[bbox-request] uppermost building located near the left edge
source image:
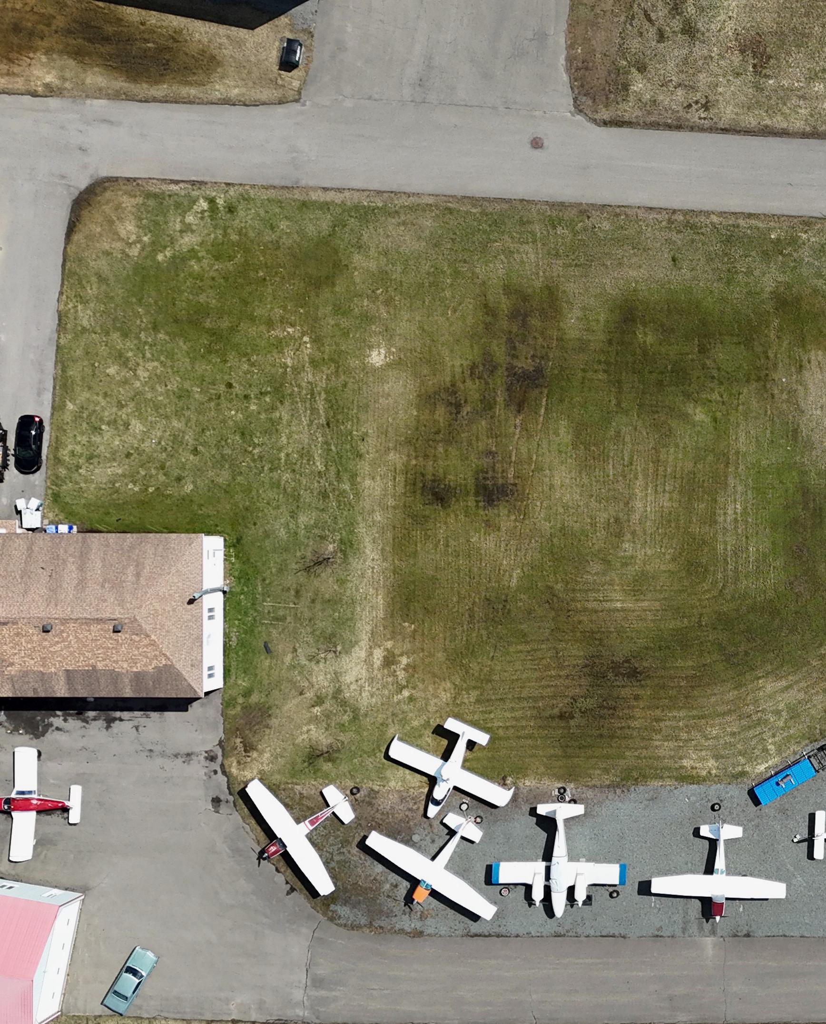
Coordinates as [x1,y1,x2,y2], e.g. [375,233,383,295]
[0,519,231,698]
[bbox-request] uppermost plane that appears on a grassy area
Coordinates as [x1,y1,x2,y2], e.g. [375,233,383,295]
[390,717,516,819]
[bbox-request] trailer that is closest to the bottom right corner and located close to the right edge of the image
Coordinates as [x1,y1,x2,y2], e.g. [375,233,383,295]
[752,742,826,805]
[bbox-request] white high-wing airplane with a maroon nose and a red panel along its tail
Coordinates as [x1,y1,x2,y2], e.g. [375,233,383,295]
[245,778,354,898]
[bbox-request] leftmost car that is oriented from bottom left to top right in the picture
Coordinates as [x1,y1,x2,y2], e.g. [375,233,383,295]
[102,947,157,1016]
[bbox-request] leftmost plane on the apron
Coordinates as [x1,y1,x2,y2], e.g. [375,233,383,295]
[0,748,78,862]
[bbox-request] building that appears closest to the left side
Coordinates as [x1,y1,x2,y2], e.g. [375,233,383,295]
[0,878,87,1024]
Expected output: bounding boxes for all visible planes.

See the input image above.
[0,748,78,862]
[390,717,516,819]
[651,824,787,923]
[492,804,627,918]
[367,811,496,921]
[245,778,354,898]
[814,810,826,859]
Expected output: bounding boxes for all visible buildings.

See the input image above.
[0,519,231,698]
[0,878,87,1024]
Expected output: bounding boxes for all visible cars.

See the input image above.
[102,947,157,1016]
[12,415,44,472]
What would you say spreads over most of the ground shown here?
grass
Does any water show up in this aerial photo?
No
